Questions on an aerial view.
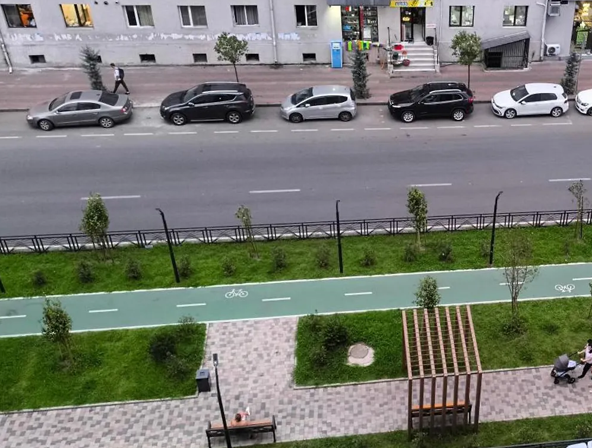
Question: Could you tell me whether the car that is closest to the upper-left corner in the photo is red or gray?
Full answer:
In this view, the car that is closest to the upper-left corner is gray.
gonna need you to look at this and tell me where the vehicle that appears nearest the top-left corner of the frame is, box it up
[22,88,132,130]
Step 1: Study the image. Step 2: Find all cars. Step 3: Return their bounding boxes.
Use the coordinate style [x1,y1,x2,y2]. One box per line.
[279,83,357,122]
[387,79,477,122]
[158,80,255,126]
[22,88,132,130]
[490,81,572,119]
[572,87,592,116]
